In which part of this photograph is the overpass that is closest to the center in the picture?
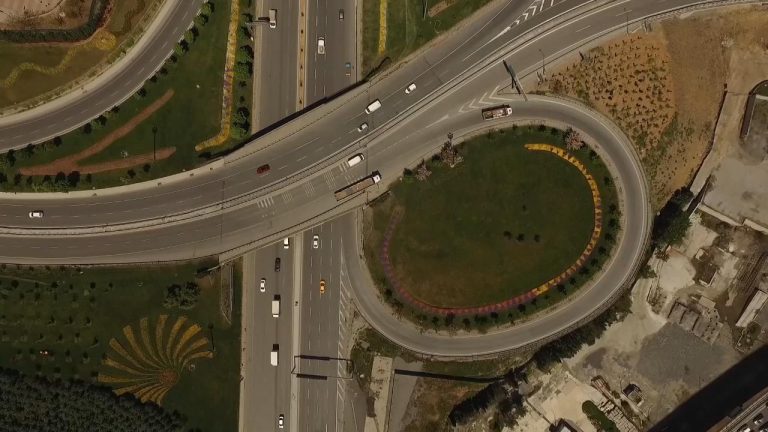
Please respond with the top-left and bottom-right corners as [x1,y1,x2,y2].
[221,80,373,262]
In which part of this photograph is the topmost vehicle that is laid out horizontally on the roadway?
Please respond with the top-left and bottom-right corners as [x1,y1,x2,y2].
[482,106,511,120]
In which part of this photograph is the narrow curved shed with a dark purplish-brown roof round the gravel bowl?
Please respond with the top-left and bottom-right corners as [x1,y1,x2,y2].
[735,80,768,136]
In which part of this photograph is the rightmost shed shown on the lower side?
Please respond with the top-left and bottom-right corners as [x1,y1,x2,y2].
[731,290,768,326]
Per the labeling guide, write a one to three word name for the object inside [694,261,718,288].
shed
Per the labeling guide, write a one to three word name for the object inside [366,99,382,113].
vehicle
